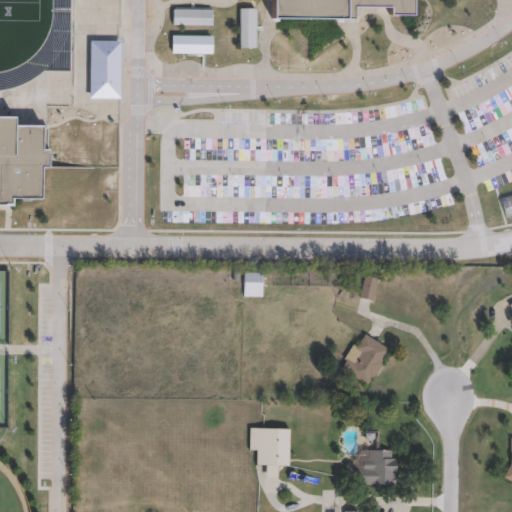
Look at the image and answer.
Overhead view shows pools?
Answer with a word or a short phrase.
Yes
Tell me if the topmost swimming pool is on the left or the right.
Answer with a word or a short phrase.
right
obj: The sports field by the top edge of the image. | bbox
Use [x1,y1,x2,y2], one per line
[0,0,53,72]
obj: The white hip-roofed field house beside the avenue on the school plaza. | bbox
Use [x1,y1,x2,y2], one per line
[91,40,121,98]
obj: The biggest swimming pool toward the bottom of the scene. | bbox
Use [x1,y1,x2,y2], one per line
[340,426,366,458]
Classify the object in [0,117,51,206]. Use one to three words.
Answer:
building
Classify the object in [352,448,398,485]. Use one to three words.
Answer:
house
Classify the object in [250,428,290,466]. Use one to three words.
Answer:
house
